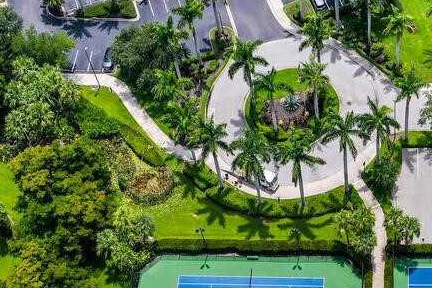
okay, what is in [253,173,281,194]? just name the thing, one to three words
truck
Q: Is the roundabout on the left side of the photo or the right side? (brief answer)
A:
right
